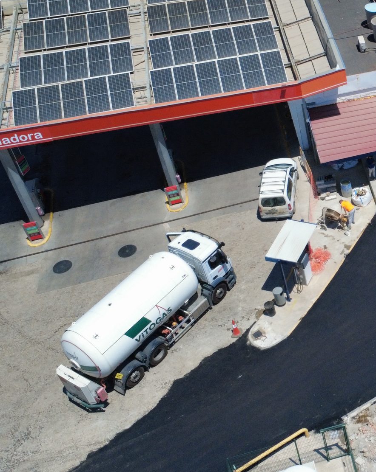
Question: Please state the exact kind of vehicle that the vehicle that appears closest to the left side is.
truck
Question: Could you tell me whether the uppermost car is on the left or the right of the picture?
right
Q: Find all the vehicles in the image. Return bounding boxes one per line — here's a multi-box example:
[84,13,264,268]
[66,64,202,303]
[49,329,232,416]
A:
[256,159,298,214]
[54,231,237,417]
